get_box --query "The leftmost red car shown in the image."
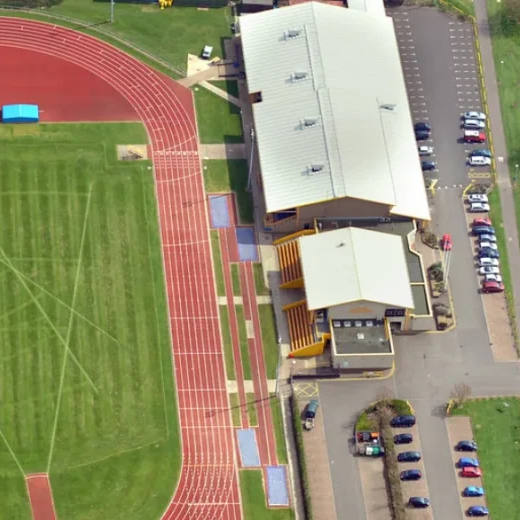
[441,234,454,250]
